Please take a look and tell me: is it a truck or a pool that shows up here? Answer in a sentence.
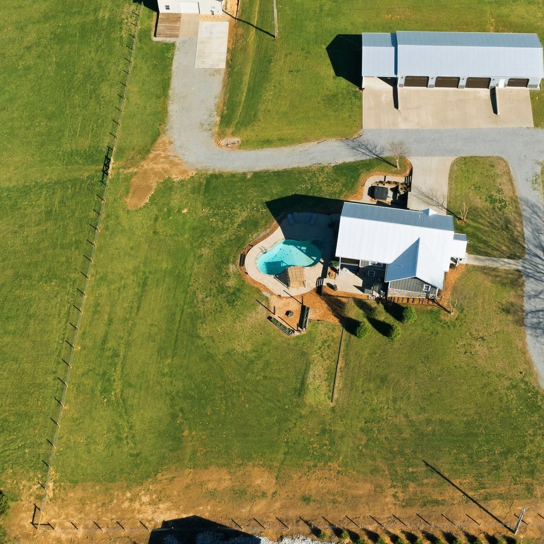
This aerial view contains a pool.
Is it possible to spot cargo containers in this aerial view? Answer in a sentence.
No, there appears to be no cargo container in this shot.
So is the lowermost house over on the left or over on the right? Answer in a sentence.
The lowermost house sits on the right side.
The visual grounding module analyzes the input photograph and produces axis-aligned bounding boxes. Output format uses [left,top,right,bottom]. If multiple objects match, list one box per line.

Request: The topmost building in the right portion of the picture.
[360,31,544,90]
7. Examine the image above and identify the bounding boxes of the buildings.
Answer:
[360,31,544,90]
[336,203,467,305]
[158,0,224,16]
